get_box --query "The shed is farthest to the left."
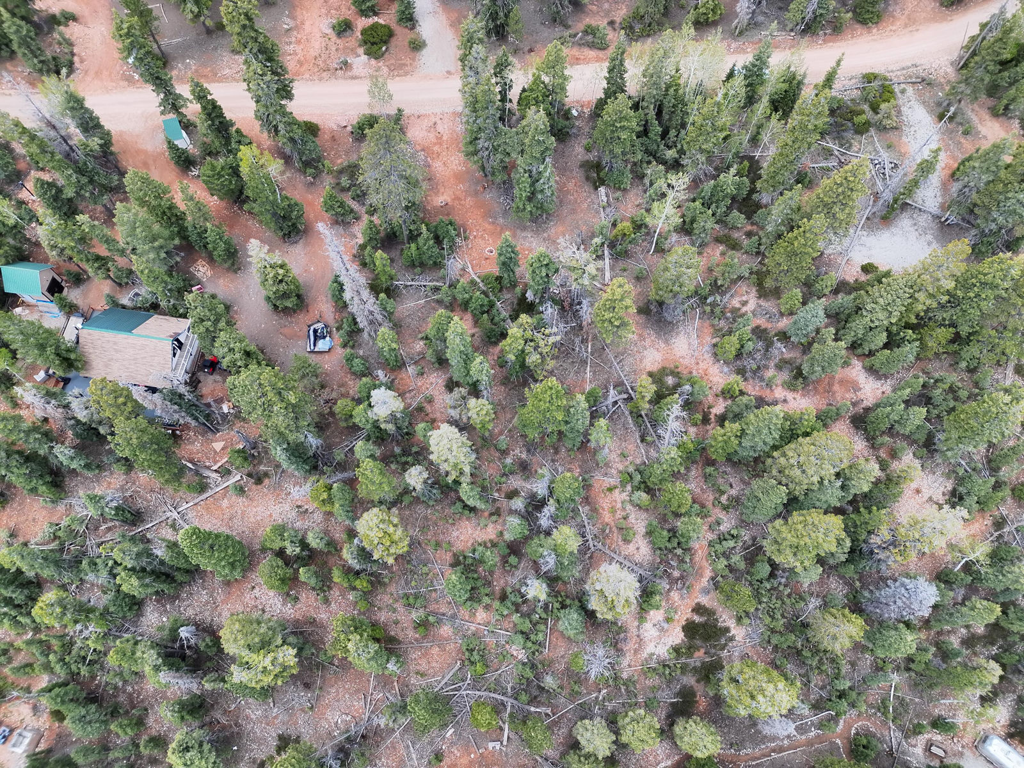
[0,258,66,302]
